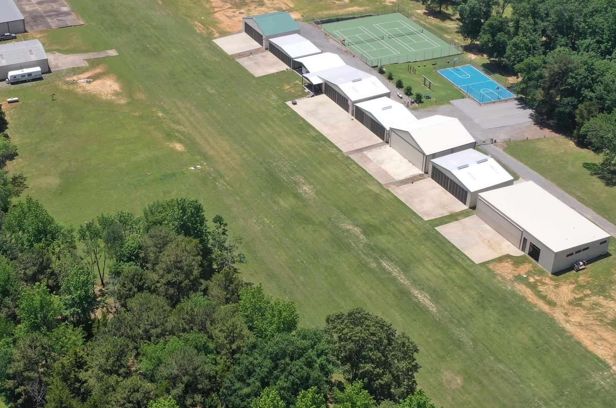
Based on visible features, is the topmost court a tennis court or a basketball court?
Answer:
tennis court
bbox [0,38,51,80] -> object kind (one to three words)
hangar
